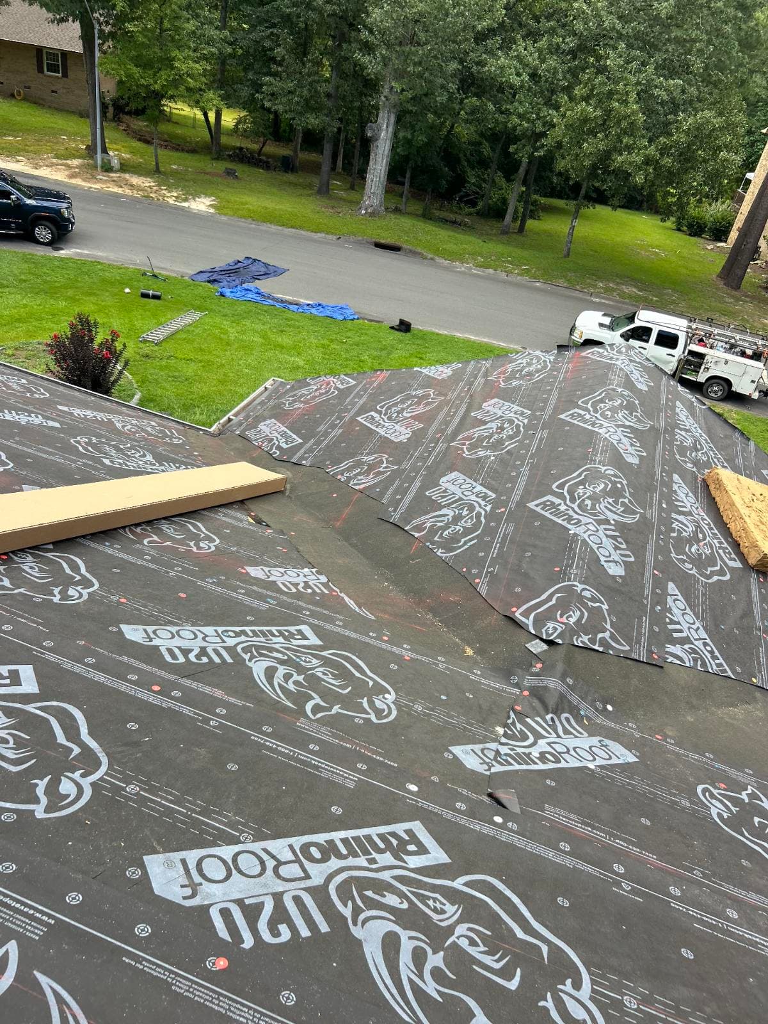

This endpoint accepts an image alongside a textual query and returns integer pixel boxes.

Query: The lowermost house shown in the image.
[0,341,768,1024]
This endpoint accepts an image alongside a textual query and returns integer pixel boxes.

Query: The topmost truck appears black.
[0,165,81,244]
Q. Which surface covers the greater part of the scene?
buildings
